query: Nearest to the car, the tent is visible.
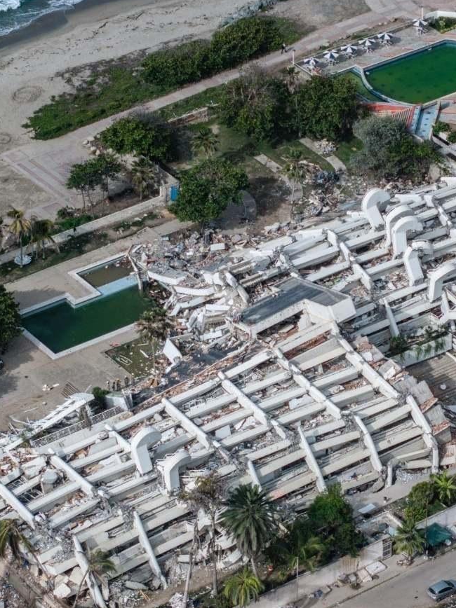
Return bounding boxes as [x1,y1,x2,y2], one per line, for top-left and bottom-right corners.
[424,525,455,558]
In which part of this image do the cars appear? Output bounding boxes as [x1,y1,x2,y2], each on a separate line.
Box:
[424,572,456,597]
